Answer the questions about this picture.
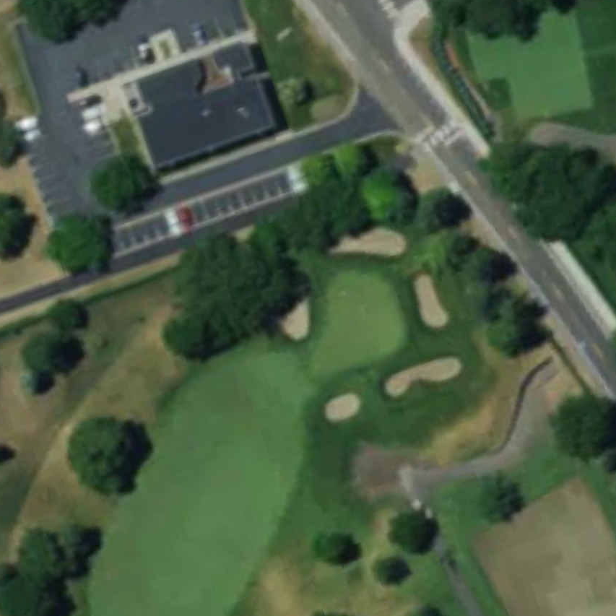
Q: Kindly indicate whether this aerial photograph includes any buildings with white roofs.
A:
No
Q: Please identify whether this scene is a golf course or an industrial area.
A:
golf course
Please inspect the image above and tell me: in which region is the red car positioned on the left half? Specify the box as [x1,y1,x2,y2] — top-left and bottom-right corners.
[178,205,191,228]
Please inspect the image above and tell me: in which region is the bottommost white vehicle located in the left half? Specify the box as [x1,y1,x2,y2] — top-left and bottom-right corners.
[166,209,181,235]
